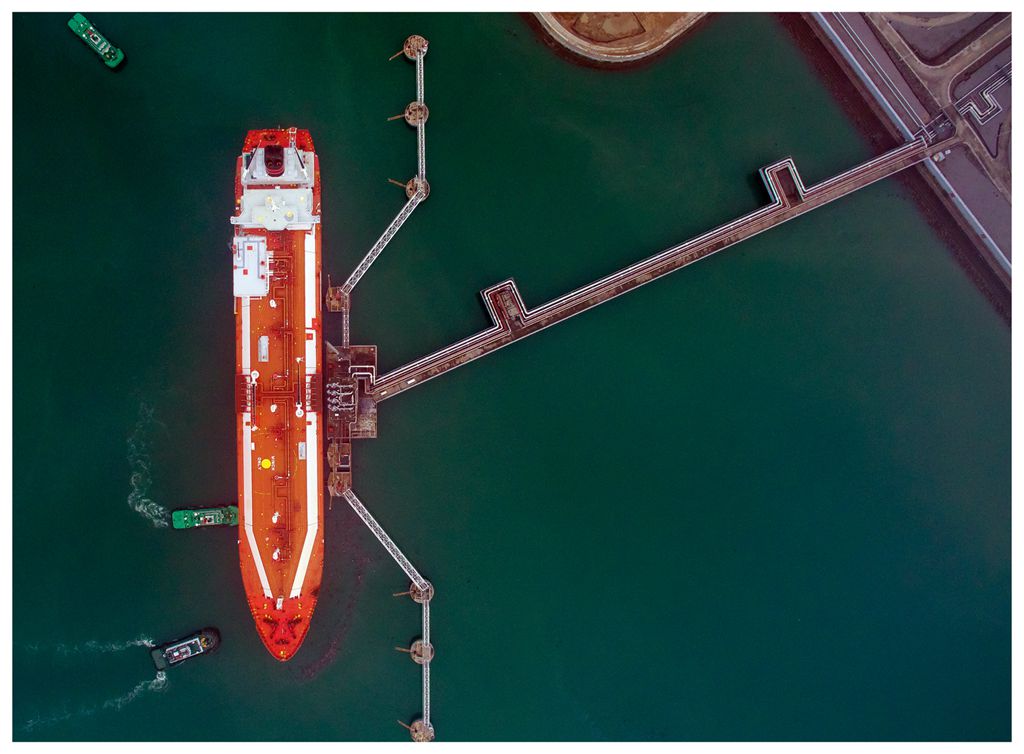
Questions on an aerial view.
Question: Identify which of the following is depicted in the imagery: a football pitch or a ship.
ship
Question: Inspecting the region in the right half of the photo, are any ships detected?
No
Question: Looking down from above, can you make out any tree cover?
No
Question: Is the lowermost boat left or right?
left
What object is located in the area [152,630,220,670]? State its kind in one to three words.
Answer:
boat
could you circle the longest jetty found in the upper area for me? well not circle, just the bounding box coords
[349,133,948,403]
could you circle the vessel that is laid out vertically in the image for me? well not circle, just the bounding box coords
[230,127,325,663]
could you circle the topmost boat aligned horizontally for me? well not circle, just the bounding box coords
[172,506,238,529]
